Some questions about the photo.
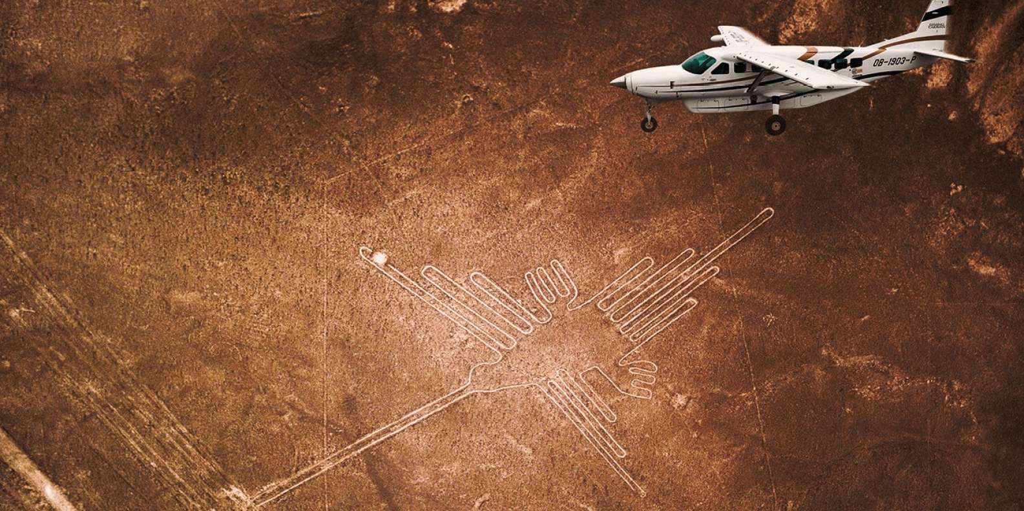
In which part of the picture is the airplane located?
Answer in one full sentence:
The airplane is located in the top right region of the scene.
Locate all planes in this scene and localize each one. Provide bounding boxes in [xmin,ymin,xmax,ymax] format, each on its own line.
[611,0,976,136]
